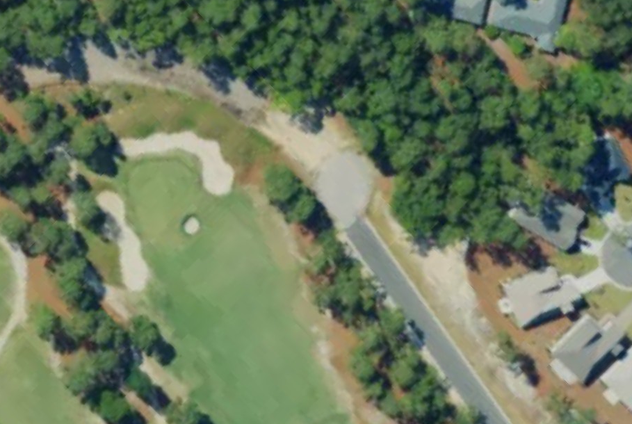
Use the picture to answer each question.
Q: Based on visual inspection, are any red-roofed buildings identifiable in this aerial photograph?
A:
No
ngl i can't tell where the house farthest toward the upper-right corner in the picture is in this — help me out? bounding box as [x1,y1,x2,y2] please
[484,0,565,53]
